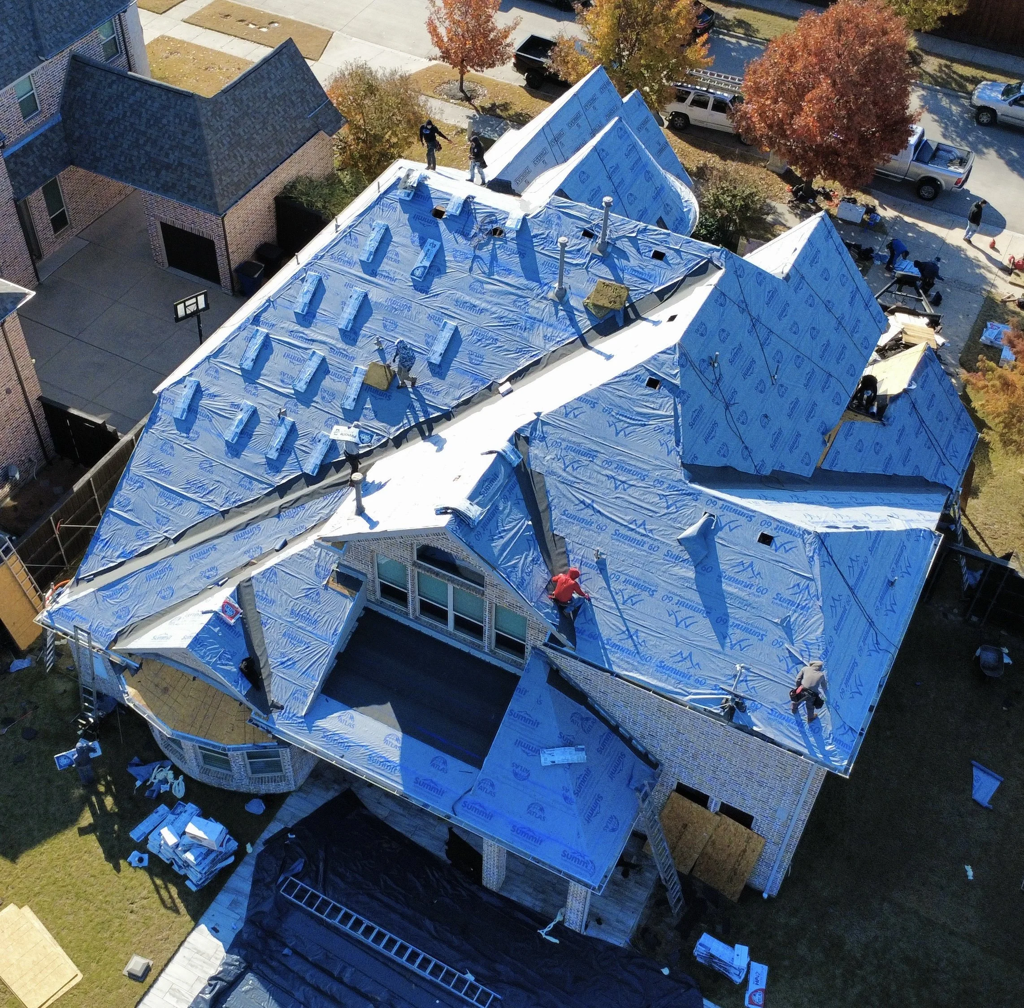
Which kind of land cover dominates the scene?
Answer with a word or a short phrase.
buildings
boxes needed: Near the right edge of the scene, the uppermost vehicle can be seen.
[962,79,1024,128]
